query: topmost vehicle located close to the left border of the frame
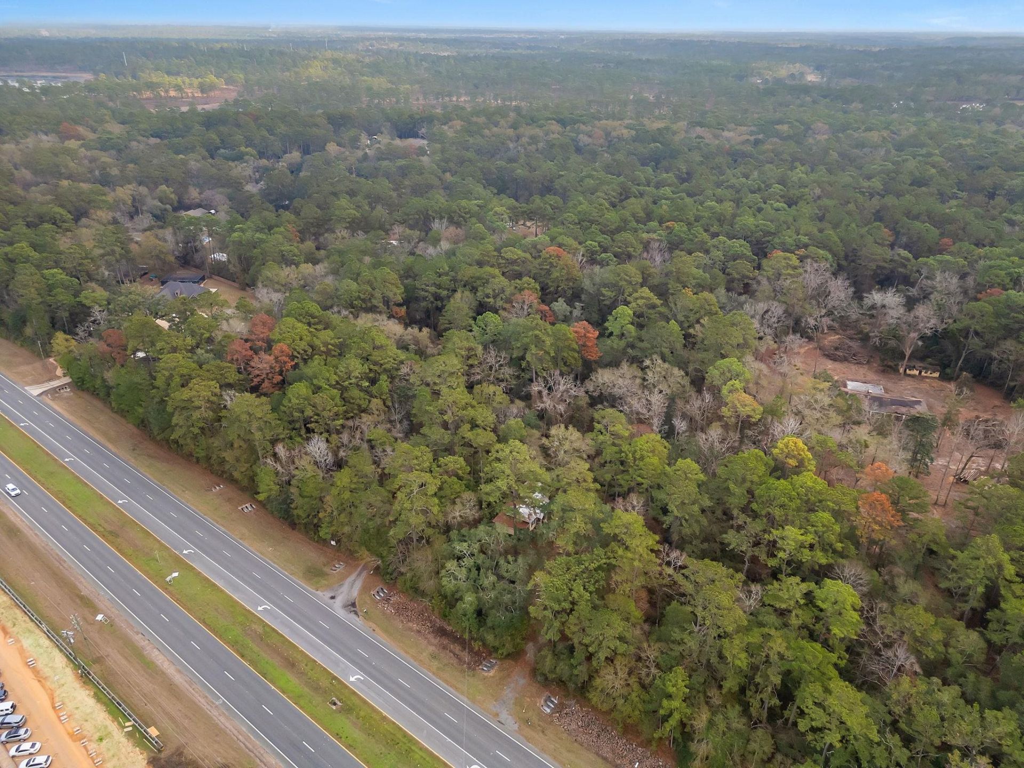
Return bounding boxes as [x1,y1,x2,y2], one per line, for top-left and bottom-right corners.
[4,482,18,494]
